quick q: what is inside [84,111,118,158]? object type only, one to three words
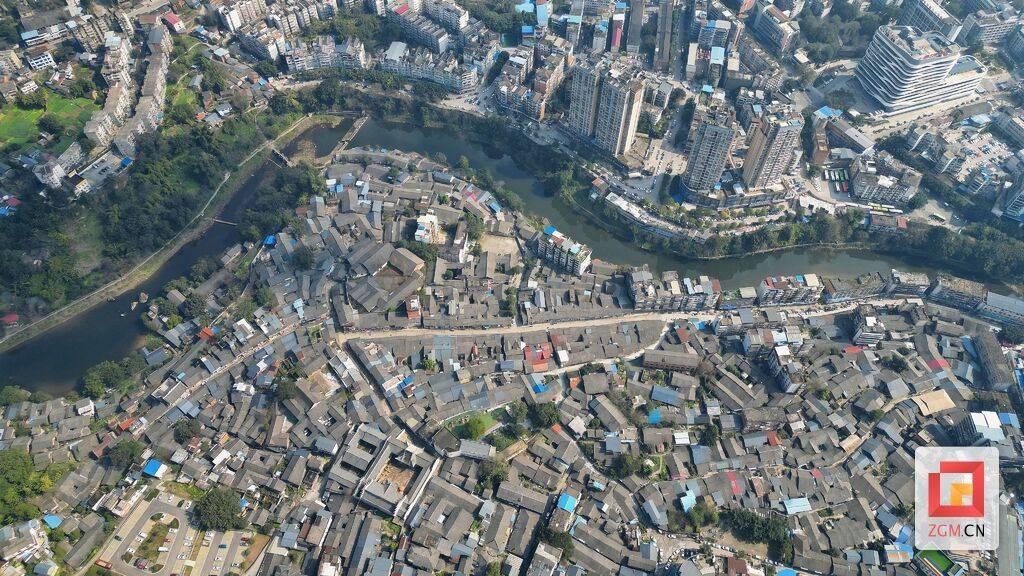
building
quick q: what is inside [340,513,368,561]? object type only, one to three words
house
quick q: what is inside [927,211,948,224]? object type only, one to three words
vehicle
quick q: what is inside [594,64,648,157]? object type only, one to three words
building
